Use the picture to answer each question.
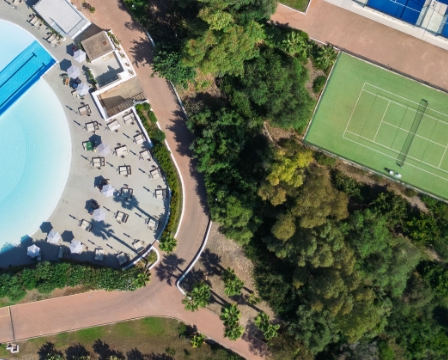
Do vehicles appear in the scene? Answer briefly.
No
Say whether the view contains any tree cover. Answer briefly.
Yes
